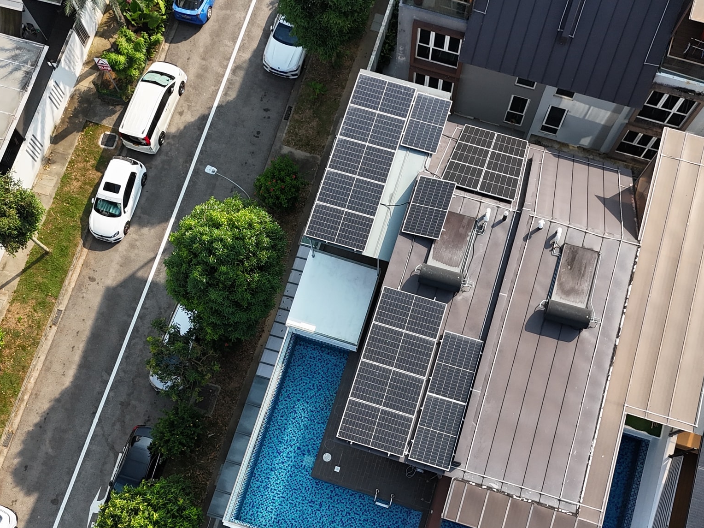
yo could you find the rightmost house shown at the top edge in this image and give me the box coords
[394,0,704,181]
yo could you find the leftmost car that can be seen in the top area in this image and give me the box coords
[88,152,149,243]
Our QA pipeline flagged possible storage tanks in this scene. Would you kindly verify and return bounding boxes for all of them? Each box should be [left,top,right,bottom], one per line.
[545,293,595,323]
[418,259,463,288]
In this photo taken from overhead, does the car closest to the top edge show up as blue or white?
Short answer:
blue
